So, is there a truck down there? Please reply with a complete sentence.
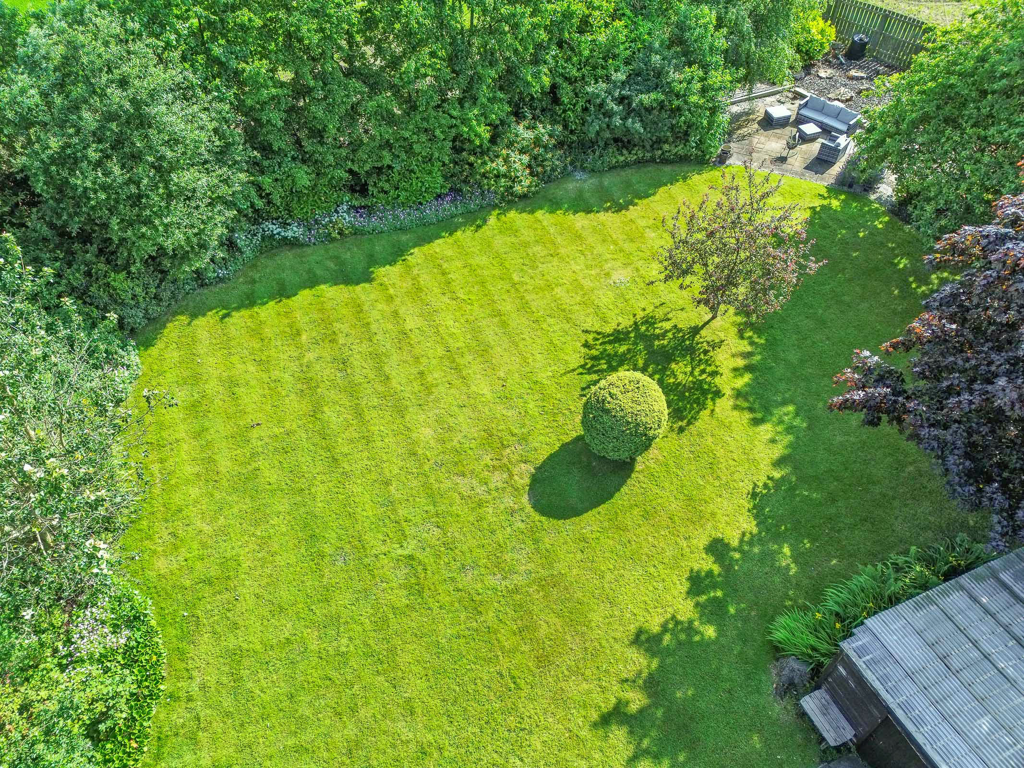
No, this view has no truck in it.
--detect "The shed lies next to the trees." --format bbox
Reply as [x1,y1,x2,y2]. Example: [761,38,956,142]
[813,548,1024,768]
